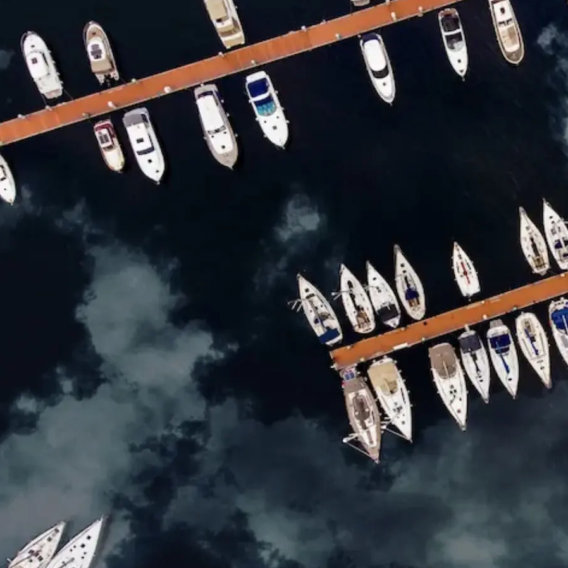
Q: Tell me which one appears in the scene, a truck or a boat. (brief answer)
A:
boat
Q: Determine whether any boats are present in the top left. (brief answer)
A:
Yes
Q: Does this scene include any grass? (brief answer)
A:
No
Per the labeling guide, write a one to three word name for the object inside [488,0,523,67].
boat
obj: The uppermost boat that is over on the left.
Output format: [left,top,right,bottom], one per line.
[206,0,245,50]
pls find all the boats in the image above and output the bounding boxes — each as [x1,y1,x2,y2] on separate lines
[126,108,165,187]
[2,519,68,568]
[24,29,64,101]
[361,32,394,107]
[392,242,425,321]
[440,8,467,85]
[95,119,126,175]
[291,271,340,348]
[335,261,373,334]
[42,512,109,568]
[488,0,523,67]
[487,318,522,402]
[516,312,553,392]
[450,239,480,299]
[247,71,290,152]
[362,258,399,329]
[372,358,418,445]
[354,0,371,8]
[342,376,386,465]
[459,330,491,407]
[202,83,242,173]
[540,196,568,270]
[548,298,568,370]
[341,367,358,385]
[206,0,245,50]
[0,155,17,206]
[427,341,472,434]
[517,204,549,276]
[87,19,122,85]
